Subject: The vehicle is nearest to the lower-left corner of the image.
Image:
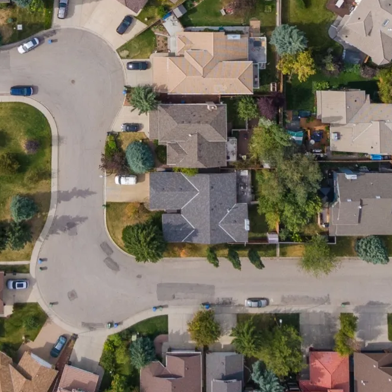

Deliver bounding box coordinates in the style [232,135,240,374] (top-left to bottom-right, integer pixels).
[50,333,67,356]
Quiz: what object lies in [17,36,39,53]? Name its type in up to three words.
car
